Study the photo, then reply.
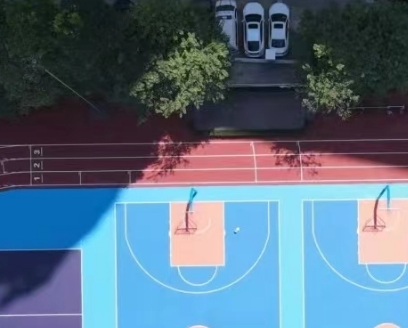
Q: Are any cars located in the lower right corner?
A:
No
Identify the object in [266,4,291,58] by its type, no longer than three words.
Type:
car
